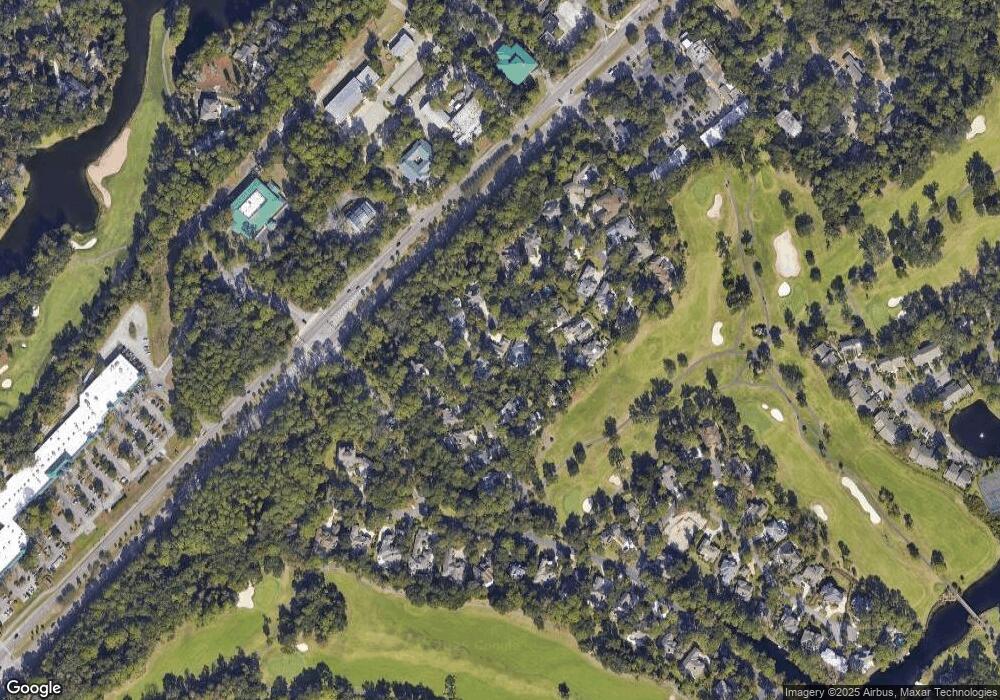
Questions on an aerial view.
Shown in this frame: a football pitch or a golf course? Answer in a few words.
golf course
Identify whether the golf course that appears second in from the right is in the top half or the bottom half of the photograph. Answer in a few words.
bottom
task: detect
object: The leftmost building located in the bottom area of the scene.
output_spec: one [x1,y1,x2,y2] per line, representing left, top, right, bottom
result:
[0,354,141,578]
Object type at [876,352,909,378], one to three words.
building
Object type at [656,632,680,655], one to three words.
house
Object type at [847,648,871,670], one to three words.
house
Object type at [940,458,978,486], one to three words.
building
